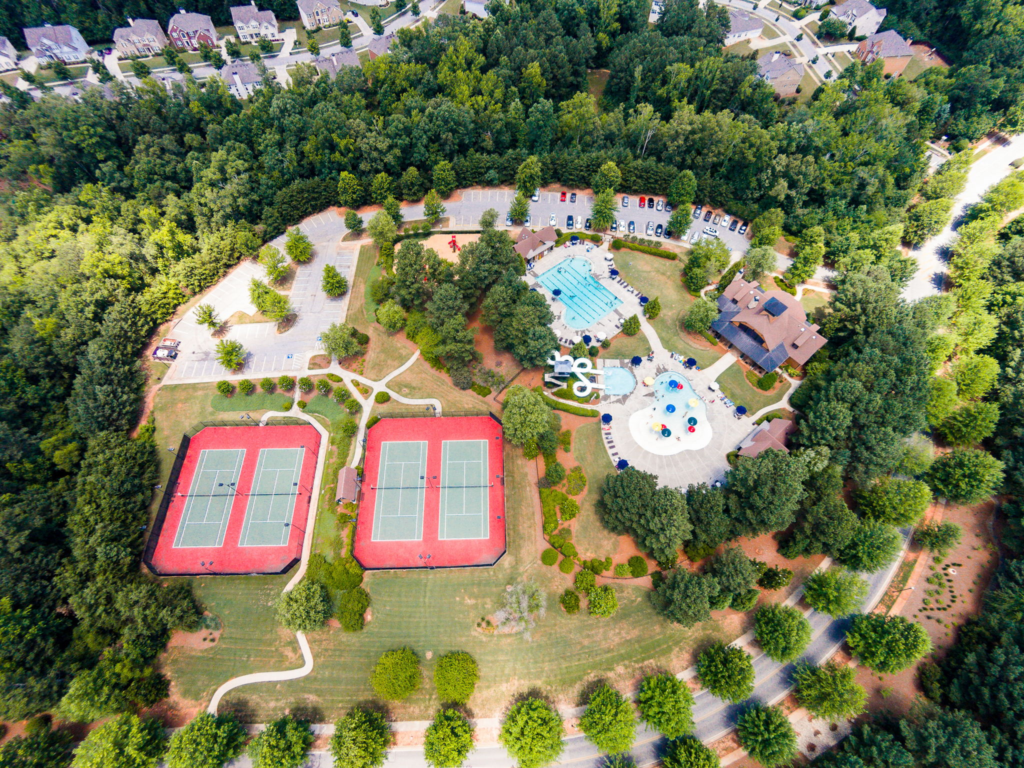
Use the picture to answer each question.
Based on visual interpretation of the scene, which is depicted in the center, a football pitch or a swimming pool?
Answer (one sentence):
You can see a swimming pool in the center.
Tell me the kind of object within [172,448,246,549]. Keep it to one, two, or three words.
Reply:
tennis court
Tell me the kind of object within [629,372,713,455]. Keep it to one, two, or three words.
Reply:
swimming pool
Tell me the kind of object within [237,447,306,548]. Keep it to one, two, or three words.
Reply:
tennis court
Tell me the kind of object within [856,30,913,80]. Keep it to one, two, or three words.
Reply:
house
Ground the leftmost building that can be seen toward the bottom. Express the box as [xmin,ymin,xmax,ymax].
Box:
[334,467,361,505]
